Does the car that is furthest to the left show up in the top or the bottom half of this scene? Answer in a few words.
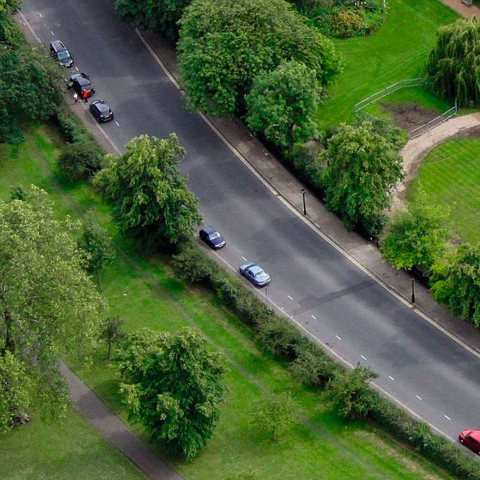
top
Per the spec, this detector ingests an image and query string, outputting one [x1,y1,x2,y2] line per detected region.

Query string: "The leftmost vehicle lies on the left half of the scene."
[48,35,73,63]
